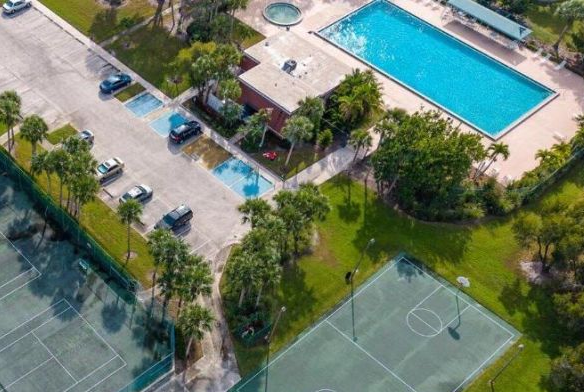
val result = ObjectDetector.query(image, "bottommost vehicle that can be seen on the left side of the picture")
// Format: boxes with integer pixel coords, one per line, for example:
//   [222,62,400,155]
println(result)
[155,201,196,231]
